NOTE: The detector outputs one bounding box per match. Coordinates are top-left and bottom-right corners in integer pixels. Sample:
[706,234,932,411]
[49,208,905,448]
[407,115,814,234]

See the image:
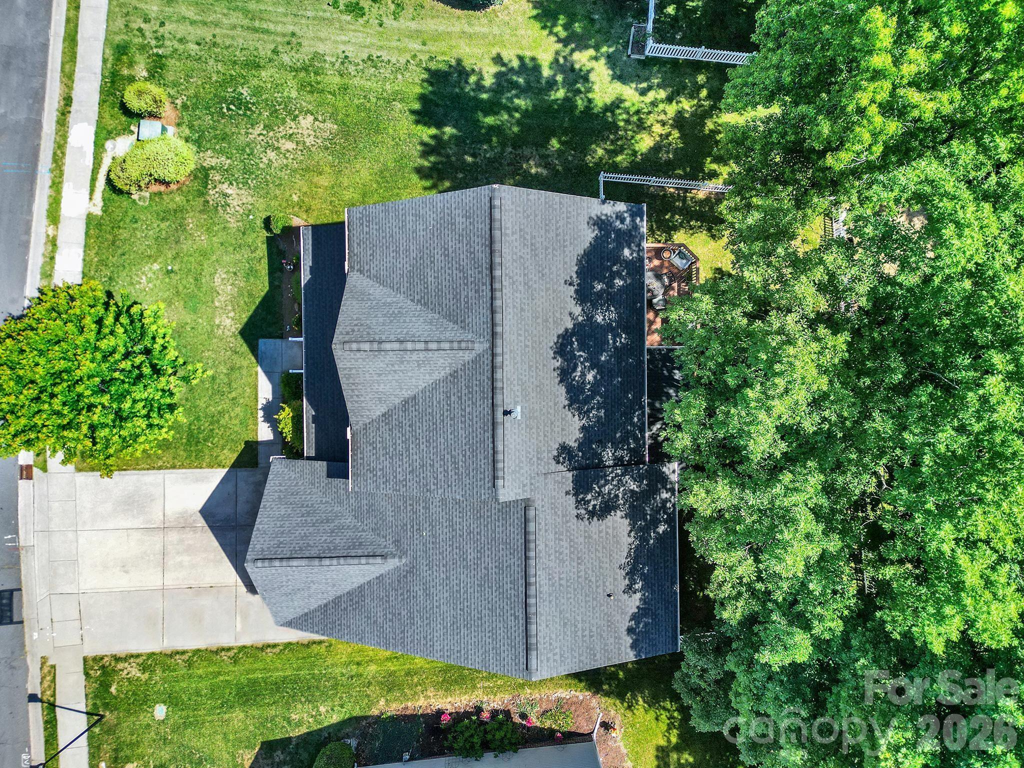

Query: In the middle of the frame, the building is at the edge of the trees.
[245,186,706,680]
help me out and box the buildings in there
[358,714,604,768]
[245,186,706,680]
